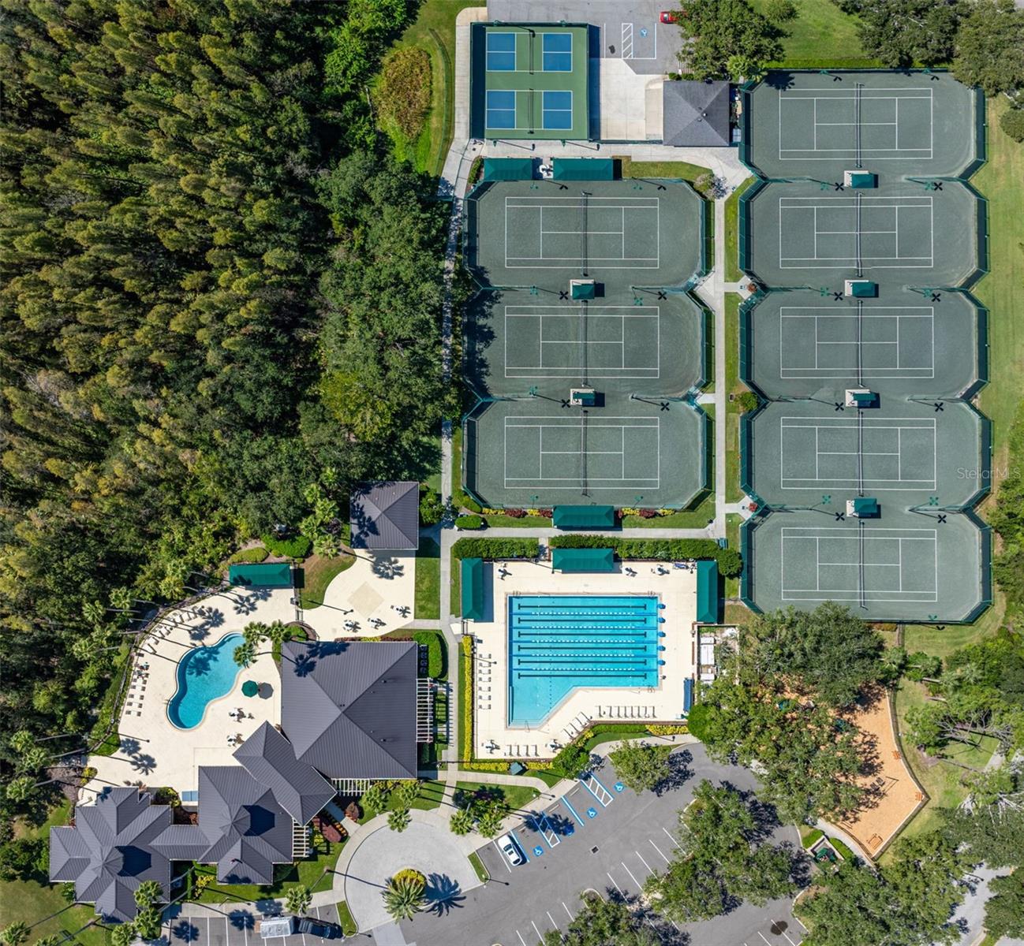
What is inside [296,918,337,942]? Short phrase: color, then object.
black truck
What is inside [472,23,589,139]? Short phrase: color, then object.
green sports court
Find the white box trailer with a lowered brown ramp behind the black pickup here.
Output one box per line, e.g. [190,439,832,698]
[256,919,298,944]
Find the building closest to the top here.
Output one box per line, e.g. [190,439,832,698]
[664,80,729,151]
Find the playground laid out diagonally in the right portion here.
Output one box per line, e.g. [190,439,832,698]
[806,817,873,876]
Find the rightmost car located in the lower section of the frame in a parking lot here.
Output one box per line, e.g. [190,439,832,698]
[501,836,522,869]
